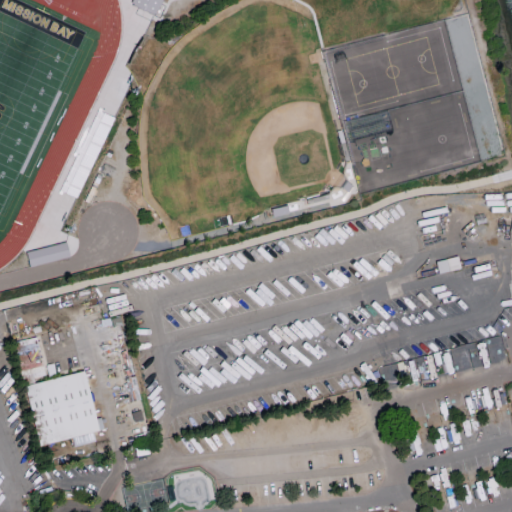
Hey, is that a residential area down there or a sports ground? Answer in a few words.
sports ground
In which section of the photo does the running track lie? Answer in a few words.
top left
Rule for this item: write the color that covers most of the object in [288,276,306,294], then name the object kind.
white camper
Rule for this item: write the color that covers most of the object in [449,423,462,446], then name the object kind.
white vehicle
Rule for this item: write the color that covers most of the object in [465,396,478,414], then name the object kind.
white vehicle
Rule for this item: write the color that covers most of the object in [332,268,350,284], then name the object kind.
white camper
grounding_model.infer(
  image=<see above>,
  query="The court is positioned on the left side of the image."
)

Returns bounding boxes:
[122,480,169,512]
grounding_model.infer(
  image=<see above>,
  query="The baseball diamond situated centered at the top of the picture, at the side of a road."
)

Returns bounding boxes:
[140,0,346,240]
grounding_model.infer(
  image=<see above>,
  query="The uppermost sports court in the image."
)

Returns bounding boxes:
[324,20,463,120]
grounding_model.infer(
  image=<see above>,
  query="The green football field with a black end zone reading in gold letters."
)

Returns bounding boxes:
[0,0,100,242]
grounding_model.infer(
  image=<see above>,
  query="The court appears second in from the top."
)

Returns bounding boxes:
[346,90,479,192]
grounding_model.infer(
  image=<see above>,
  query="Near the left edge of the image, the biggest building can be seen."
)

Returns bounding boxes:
[25,371,99,448]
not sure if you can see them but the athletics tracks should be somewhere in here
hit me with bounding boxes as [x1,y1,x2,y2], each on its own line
[0,0,121,270]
